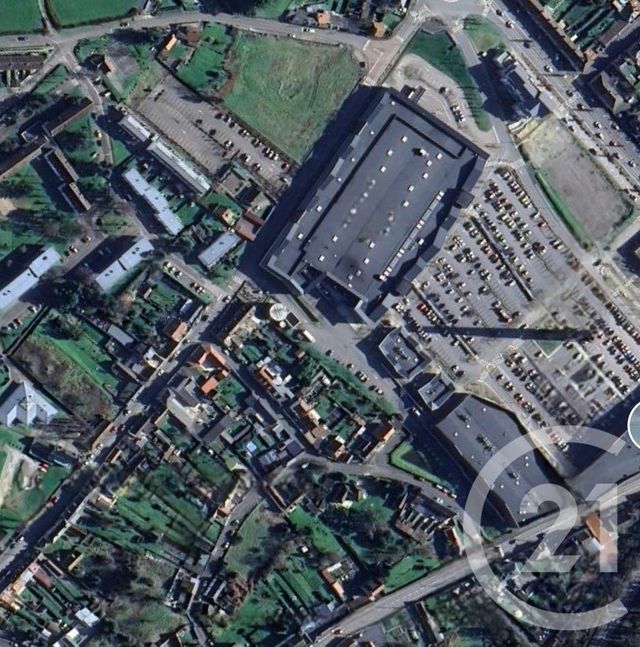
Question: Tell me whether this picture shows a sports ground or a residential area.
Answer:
residential area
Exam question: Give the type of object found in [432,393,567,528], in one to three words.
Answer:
building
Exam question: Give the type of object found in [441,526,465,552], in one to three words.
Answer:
house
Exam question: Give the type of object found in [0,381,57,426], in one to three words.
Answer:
house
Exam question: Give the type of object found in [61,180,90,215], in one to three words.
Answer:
building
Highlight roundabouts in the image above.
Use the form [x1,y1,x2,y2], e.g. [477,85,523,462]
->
[423,0,479,23]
